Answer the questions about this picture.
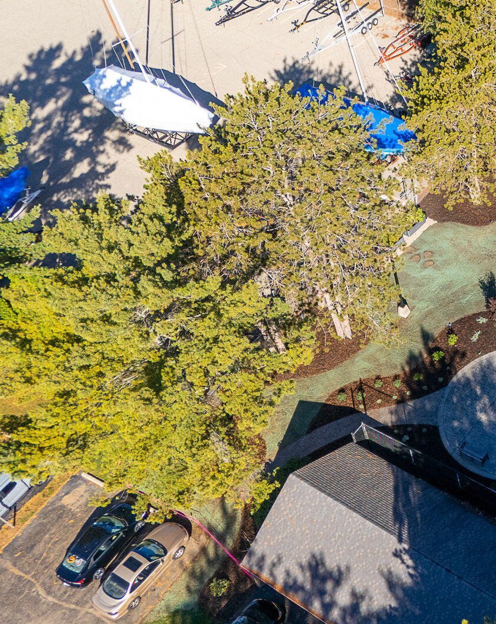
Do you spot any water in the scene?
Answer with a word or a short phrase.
No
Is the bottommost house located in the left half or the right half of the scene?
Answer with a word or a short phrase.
right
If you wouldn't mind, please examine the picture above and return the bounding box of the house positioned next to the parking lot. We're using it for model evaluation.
[242,434,496,624]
